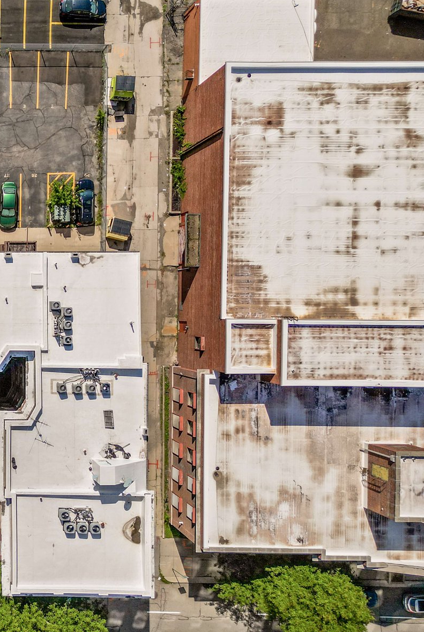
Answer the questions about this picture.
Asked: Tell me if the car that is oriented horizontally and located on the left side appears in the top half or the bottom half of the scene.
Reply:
top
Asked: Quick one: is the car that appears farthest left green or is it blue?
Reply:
green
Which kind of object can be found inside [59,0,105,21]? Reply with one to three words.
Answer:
car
